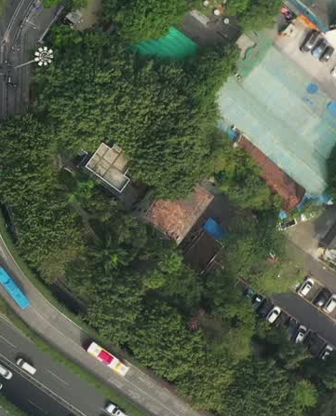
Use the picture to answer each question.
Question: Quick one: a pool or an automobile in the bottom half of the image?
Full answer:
The one visible in the bottom half of the image is an automobile.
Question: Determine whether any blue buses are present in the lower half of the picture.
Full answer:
Yes, a blue bus is visible in the lower half of the picture.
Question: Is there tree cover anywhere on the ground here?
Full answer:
Yes, there's tree cover in this view.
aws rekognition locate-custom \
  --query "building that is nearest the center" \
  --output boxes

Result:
[150,184,212,245]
